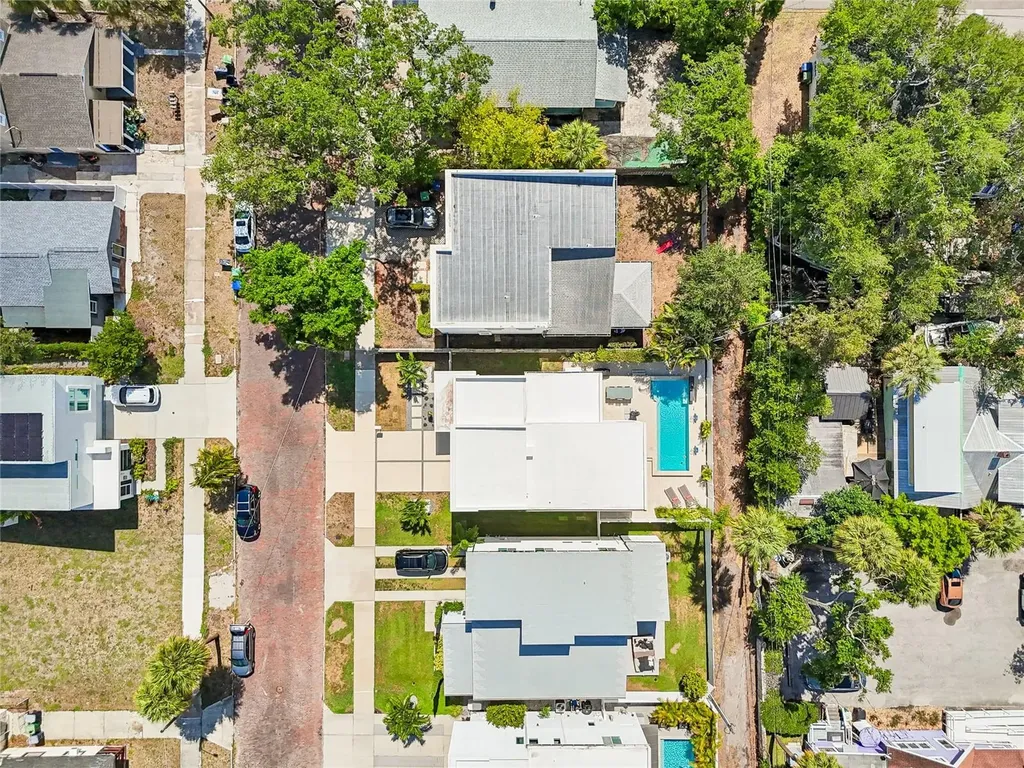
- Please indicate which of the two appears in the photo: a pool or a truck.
pool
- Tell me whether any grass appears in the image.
Yes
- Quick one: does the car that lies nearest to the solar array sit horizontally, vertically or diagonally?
horizontally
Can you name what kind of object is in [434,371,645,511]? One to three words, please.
house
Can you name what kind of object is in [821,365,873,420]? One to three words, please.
shed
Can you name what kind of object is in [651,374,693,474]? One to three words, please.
swimming pool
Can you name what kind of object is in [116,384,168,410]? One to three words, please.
car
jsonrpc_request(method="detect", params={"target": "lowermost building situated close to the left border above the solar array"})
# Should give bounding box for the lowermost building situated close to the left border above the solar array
[0,201,128,328]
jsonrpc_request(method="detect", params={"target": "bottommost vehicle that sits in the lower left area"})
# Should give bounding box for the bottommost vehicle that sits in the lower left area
[229,623,257,676]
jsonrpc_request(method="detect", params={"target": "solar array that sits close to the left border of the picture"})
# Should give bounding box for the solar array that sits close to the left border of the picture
[0,413,42,460]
